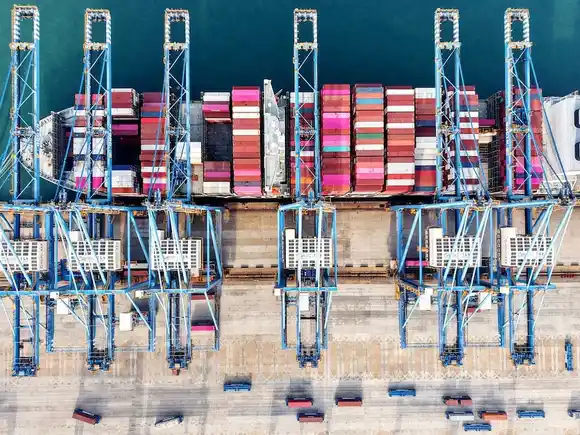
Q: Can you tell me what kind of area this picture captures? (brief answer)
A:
port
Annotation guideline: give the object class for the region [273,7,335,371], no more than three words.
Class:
container crane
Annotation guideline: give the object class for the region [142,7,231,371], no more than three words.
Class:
container crane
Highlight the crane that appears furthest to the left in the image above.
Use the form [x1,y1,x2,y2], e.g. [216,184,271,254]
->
[0,7,97,371]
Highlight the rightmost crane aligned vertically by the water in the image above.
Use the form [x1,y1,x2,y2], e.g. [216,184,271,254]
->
[446,7,574,371]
